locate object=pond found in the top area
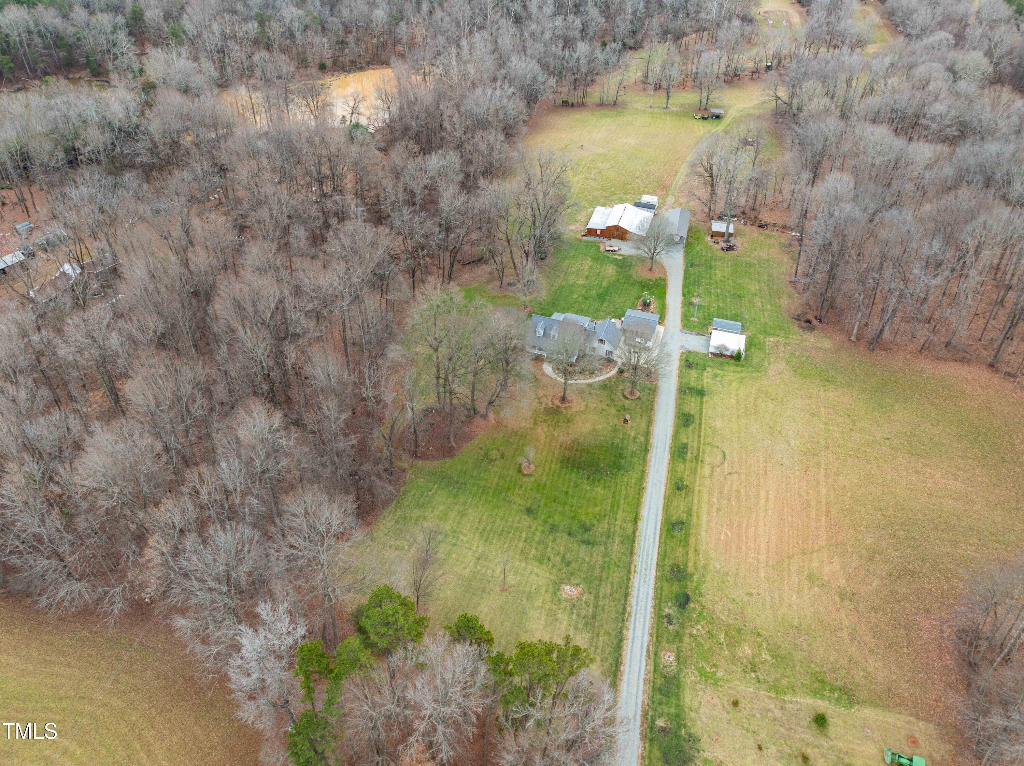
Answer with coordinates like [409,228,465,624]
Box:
[176,67,434,143]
